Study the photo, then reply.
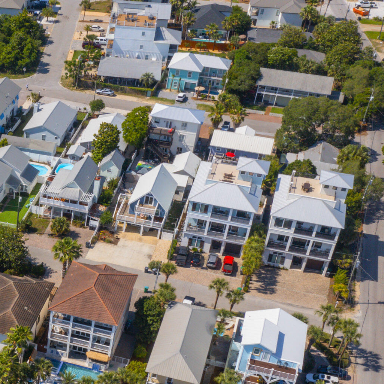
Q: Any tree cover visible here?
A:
Yes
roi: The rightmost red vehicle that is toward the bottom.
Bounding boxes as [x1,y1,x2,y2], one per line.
[222,256,235,273]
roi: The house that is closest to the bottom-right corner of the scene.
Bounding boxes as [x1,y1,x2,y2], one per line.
[229,302,308,384]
